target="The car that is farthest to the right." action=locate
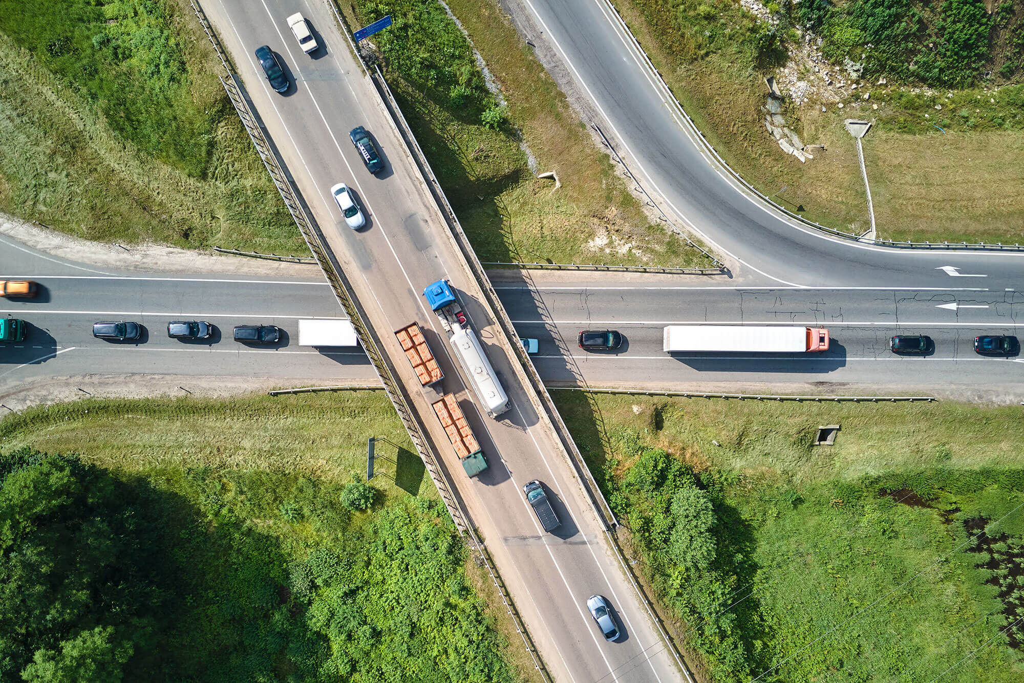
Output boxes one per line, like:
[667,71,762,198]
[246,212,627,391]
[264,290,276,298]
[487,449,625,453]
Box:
[971,334,1018,355]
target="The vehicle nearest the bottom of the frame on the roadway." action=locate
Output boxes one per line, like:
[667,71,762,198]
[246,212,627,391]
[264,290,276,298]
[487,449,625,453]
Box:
[586,592,622,643]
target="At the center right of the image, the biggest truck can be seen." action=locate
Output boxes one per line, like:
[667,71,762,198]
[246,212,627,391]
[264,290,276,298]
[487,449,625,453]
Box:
[661,325,828,355]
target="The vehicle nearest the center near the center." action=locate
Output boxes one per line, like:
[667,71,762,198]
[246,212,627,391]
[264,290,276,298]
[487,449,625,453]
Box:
[520,336,538,353]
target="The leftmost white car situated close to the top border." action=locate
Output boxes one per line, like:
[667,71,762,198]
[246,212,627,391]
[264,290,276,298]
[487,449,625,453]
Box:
[287,12,320,57]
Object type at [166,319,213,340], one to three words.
car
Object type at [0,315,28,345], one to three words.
truck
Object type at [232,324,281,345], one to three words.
vehicle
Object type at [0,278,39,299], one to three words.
car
